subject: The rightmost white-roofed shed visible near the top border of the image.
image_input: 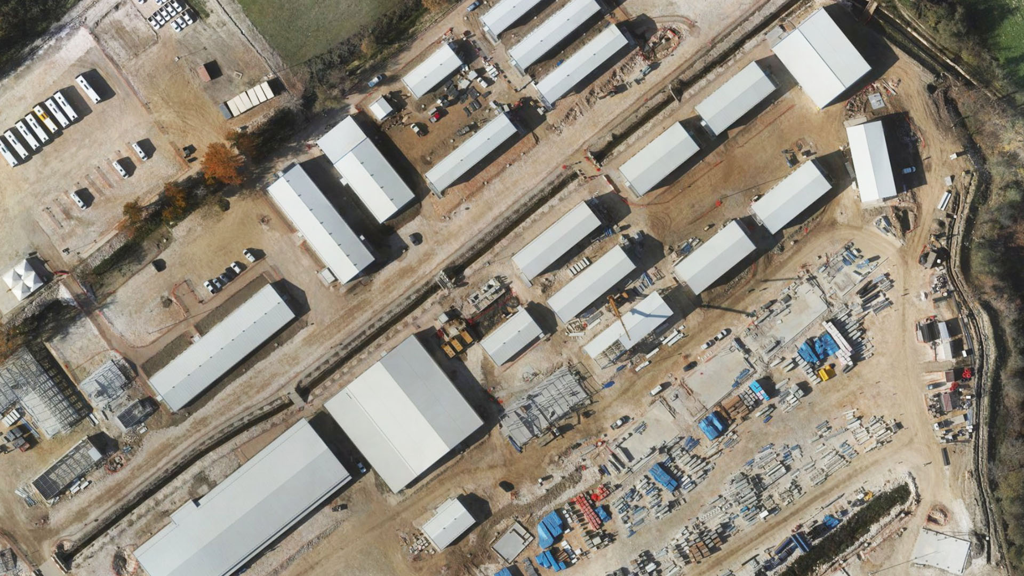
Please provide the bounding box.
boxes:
[772,7,872,109]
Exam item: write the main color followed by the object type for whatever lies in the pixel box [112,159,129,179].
white vehicle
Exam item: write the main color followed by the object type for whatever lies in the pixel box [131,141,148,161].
white vehicle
